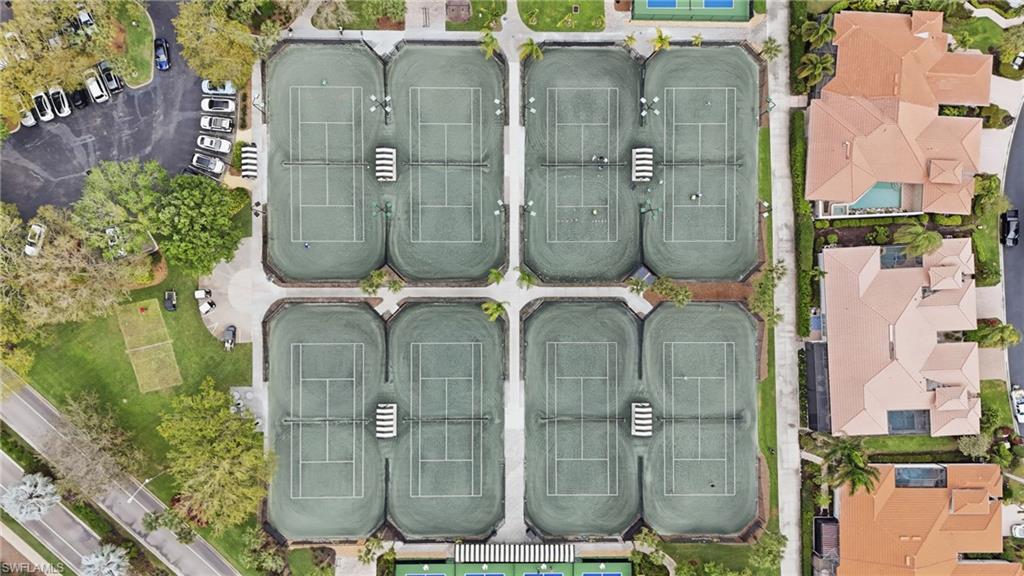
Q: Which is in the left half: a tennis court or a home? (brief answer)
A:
tennis court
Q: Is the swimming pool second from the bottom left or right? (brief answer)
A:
right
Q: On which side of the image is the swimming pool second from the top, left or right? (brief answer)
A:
right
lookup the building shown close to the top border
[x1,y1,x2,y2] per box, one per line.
[806,11,993,216]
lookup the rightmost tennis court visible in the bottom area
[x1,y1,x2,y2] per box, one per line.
[642,302,757,538]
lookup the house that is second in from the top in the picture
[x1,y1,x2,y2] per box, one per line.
[821,238,981,436]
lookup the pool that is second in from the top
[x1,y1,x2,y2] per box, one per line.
[880,246,919,267]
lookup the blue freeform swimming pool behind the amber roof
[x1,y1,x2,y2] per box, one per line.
[894,462,950,487]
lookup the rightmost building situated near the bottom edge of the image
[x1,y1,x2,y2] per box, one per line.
[838,463,1020,576]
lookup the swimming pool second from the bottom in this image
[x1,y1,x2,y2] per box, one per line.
[886,411,929,436]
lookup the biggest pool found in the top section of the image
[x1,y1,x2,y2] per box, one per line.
[814,181,923,216]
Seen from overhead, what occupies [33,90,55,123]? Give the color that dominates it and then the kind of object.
white car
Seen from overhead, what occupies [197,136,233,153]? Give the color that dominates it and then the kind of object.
white car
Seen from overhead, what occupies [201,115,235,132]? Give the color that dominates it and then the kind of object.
white vehicle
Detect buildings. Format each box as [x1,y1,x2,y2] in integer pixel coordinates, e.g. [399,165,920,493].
[806,11,993,216]
[821,238,981,436]
[838,463,1020,576]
